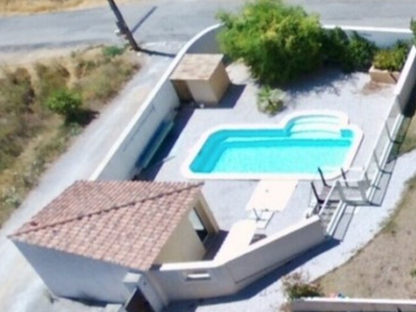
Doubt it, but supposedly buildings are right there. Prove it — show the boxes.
[161,46,231,105]
[3,172,222,307]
